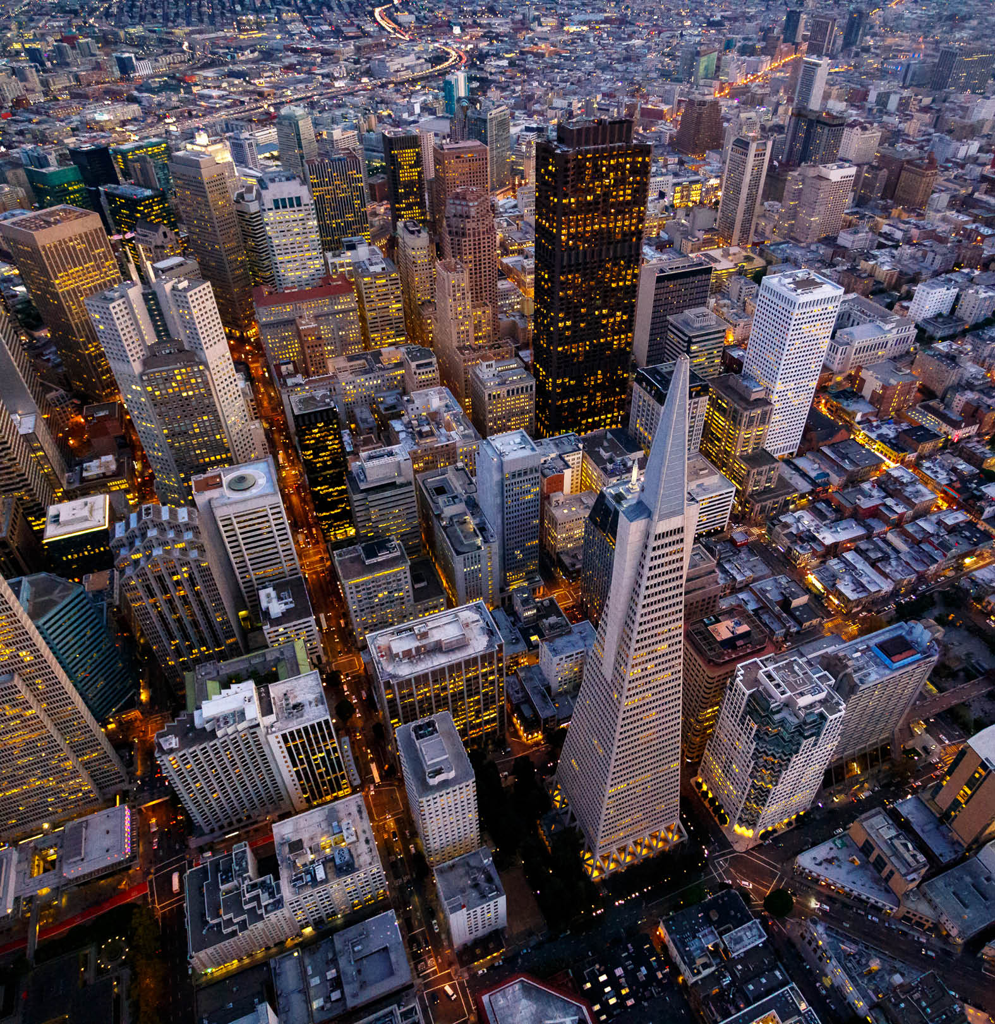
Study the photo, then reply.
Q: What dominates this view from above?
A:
buildings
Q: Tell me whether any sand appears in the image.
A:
No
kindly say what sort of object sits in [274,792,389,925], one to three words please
building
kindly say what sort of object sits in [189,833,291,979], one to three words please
building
